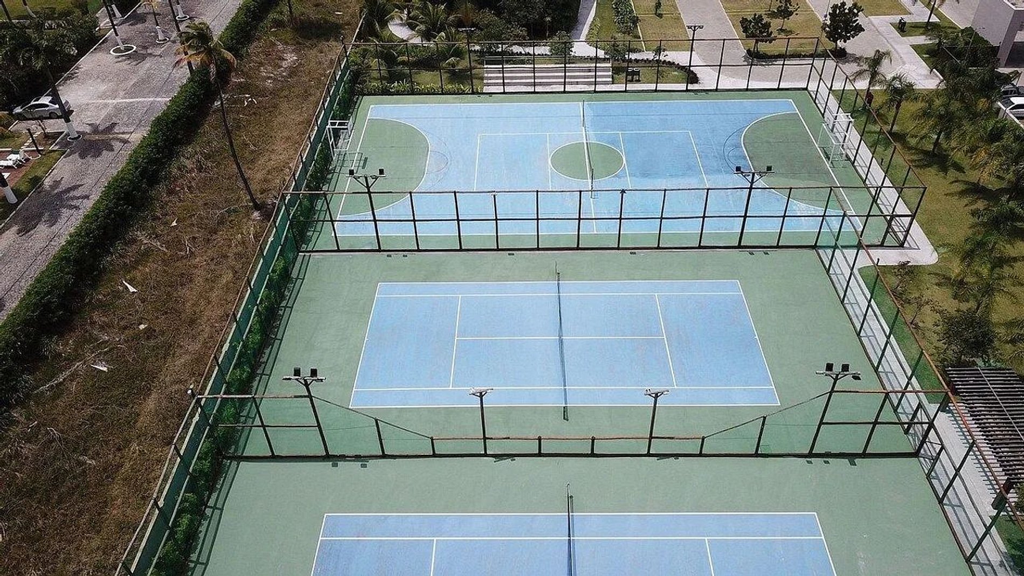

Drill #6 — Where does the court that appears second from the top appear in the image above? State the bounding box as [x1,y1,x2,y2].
[231,248,913,453]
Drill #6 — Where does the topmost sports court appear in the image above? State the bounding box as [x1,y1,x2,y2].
[304,89,901,249]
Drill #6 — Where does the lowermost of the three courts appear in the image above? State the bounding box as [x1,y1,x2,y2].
[185,456,974,576]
